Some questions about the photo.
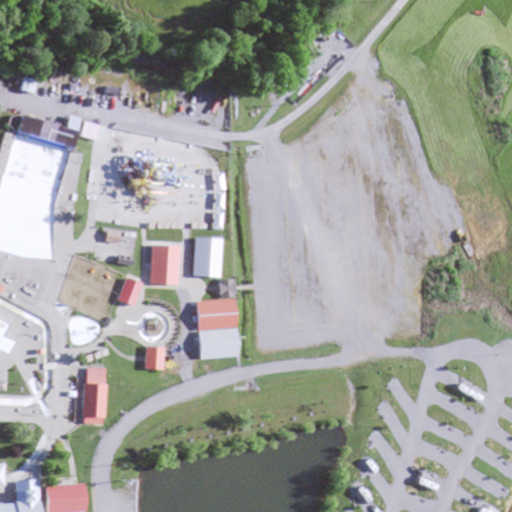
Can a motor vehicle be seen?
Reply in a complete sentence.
Yes, you can see a motor vehicle in this photo.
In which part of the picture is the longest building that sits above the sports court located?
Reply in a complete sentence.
The longest building that sits above the sports court sits in the top left section of the image.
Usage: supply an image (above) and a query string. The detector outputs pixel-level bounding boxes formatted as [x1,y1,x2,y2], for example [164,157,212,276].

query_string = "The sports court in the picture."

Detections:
[58,254,124,320]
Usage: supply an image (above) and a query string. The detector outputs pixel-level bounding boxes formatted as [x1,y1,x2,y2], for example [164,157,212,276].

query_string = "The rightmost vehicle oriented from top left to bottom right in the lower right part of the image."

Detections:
[459,382,486,402]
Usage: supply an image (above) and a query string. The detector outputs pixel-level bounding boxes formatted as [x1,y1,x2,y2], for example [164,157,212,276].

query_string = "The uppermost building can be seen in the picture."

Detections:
[8,116,78,146]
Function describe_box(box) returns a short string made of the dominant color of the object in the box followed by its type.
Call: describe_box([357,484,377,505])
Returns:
white vehicle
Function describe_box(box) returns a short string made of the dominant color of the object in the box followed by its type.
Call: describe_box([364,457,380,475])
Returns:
white vehicle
